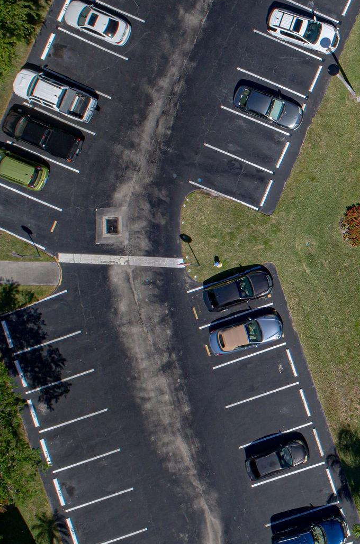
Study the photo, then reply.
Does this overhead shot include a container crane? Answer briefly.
No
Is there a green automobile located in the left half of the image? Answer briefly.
Yes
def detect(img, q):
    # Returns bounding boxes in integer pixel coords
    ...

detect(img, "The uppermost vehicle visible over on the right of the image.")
[267,6,341,57]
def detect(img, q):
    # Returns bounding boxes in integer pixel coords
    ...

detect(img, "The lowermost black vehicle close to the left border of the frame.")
[2,108,86,162]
